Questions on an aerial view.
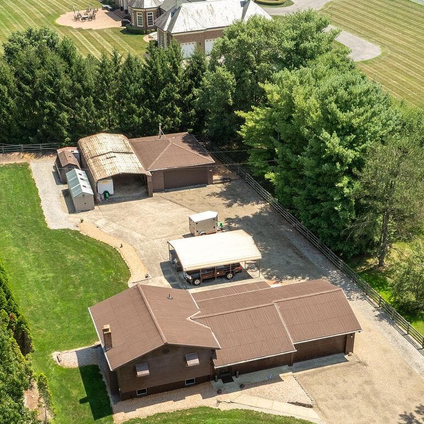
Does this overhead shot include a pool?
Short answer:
No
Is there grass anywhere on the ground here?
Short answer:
Yes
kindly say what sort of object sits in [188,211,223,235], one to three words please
trailer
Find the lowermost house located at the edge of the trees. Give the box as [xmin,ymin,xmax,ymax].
[85,279,369,401]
